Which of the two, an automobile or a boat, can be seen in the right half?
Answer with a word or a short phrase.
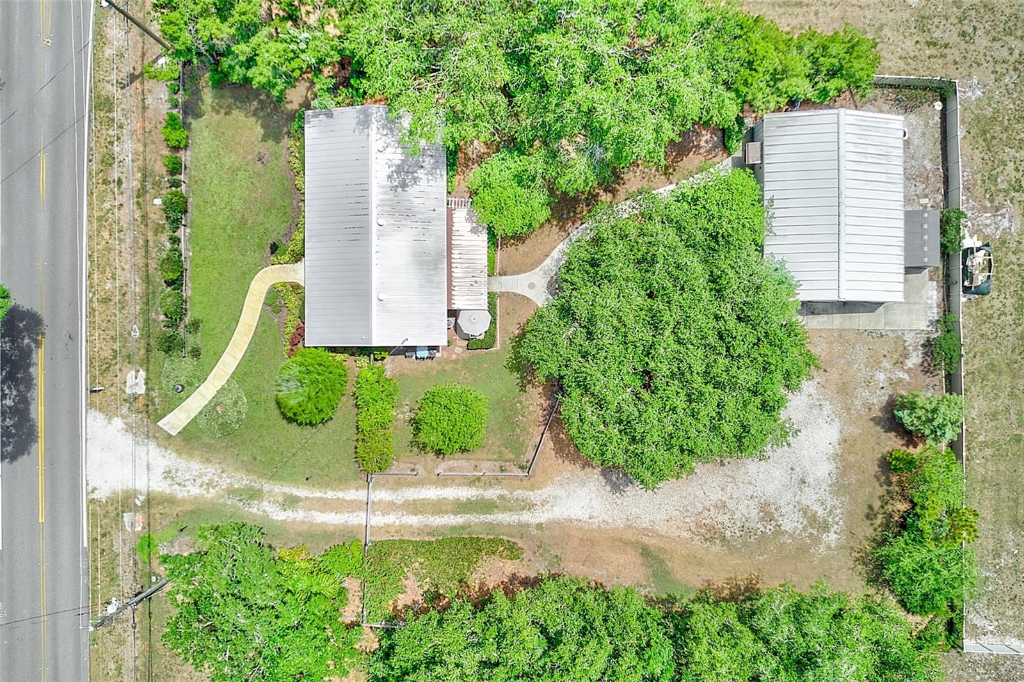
boat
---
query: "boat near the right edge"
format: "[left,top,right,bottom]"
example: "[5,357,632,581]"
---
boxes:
[964,240,994,295]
